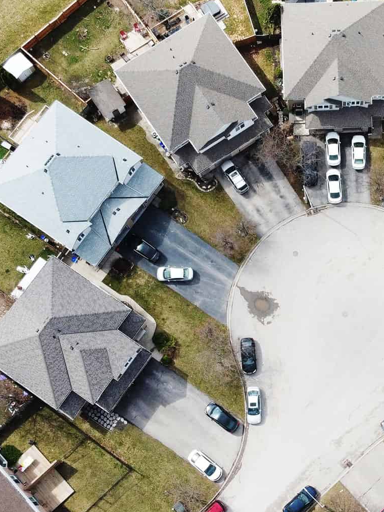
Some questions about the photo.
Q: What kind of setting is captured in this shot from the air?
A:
residential area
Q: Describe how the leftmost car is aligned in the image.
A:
on a diagonal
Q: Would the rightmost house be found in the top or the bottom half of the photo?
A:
top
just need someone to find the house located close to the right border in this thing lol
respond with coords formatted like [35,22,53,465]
[281,0,384,135]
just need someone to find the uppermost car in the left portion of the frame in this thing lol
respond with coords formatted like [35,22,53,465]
[126,232,162,265]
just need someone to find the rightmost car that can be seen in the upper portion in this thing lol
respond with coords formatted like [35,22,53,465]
[350,136,367,170]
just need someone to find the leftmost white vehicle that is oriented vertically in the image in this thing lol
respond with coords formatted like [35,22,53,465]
[245,387,263,424]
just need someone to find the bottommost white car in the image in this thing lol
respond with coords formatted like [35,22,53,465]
[187,448,223,485]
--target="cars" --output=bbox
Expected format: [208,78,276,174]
[350,136,367,170]
[158,265,194,282]
[126,232,162,265]
[325,170,343,203]
[205,402,241,435]
[282,486,317,512]
[239,338,258,374]
[220,161,249,195]
[187,448,223,485]
[245,387,263,424]
[204,500,226,512]
[324,133,341,166]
